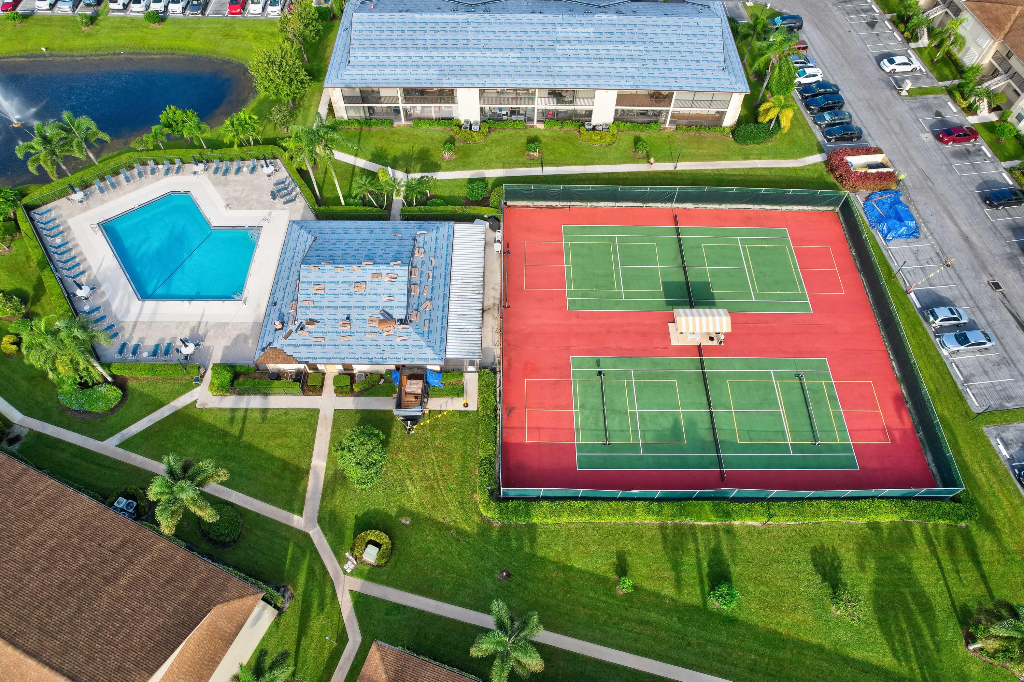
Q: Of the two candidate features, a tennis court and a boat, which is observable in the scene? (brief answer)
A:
tennis court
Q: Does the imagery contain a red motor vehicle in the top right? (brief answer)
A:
Yes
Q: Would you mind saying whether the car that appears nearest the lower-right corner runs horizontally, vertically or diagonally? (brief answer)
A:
horizontally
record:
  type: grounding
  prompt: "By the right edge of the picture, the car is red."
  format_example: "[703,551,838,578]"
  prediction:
[938,125,982,145]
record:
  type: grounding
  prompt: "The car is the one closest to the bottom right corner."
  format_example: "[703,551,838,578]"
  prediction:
[940,330,997,354]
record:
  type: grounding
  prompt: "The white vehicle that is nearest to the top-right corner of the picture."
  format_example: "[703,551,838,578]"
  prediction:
[882,55,923,73]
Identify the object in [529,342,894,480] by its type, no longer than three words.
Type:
tennis court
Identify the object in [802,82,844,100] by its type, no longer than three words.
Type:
car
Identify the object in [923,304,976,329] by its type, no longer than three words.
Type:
car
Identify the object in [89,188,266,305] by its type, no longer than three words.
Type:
swimming pool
